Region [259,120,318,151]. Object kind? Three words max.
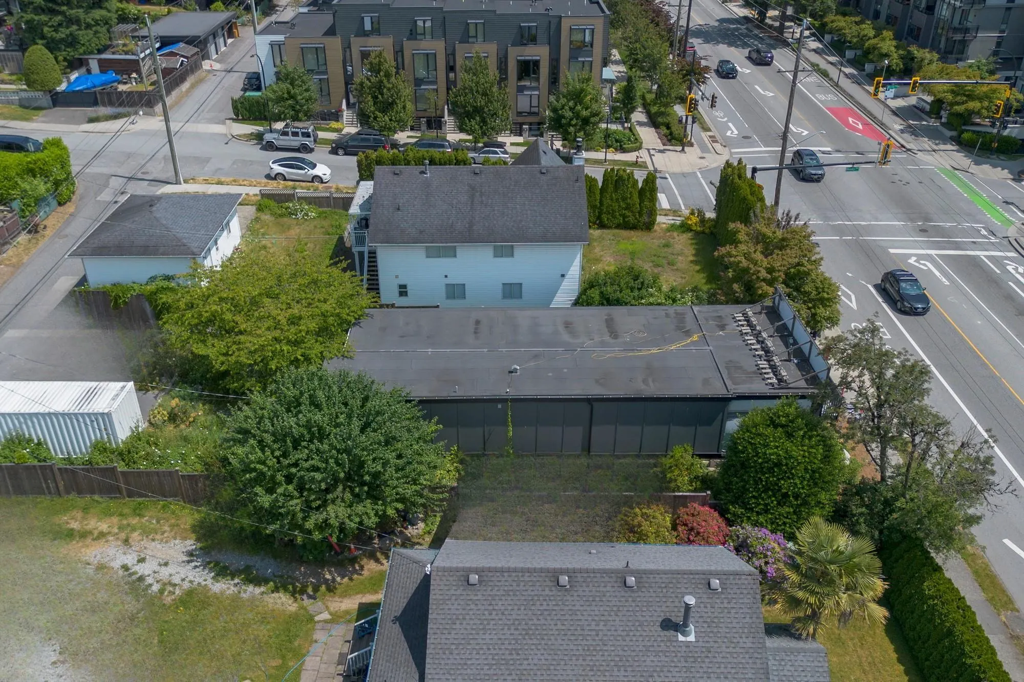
car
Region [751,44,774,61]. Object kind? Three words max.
car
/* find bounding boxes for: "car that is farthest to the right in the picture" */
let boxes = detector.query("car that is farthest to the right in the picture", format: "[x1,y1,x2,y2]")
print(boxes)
[882,266,937,312]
